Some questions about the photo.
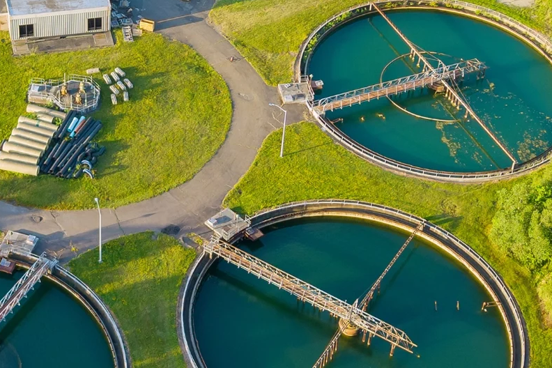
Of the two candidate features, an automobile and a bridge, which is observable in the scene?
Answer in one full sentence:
Visible in the photo is a bridge.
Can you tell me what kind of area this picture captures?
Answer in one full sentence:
What you see here is an industrial area.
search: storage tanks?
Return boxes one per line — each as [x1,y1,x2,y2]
[0,225,127,368]
[280,0,552,181]
[182,199,526,368]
